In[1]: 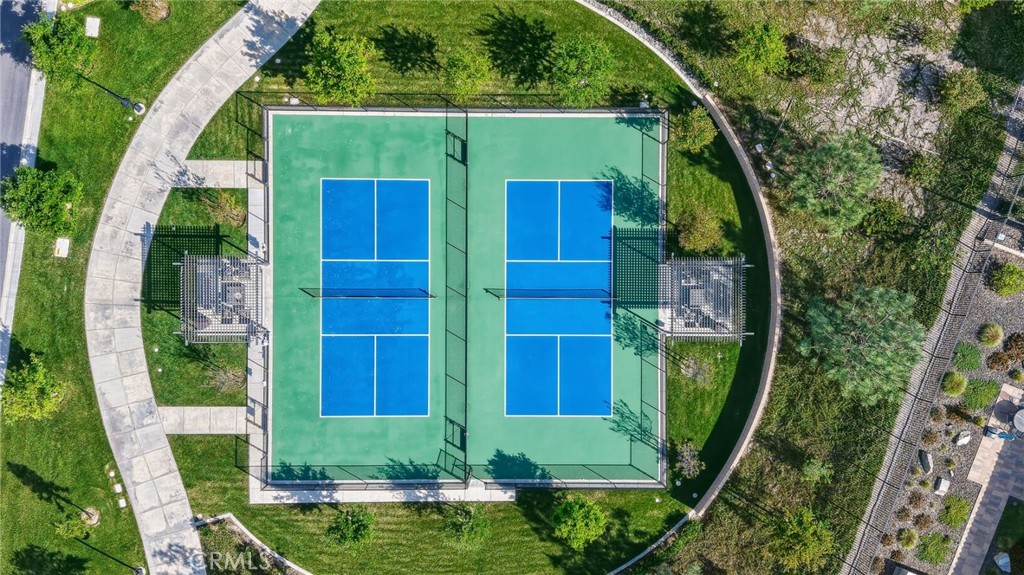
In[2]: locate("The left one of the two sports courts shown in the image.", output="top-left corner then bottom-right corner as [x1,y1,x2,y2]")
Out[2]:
[273,114,466,480]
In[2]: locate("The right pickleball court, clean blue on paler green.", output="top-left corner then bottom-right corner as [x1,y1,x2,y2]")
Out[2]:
[467,114,658,480]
